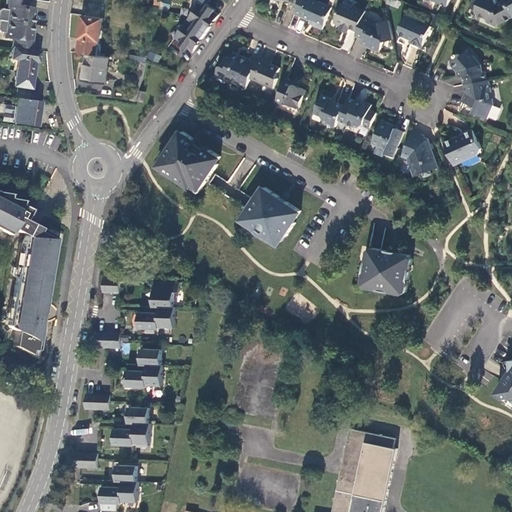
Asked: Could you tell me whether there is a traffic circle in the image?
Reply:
Yes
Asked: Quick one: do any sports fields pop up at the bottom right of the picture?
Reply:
Yes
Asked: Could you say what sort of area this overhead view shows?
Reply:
residential area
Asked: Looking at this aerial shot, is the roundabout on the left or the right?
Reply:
left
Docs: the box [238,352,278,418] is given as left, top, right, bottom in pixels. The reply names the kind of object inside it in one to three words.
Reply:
sports court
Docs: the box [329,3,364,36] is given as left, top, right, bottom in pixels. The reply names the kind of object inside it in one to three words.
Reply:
house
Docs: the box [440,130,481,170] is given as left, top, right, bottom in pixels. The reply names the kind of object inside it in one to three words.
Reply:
house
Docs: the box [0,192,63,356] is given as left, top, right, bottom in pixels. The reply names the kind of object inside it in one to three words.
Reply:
building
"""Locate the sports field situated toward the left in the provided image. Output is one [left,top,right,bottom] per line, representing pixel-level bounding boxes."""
[0,392,36,509]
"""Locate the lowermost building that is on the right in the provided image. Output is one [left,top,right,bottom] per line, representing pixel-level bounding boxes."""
[331,430,398,512]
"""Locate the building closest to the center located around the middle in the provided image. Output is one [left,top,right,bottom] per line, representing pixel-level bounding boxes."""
[236,186,302,250]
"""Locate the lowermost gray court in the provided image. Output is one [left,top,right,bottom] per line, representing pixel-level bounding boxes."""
[238,442,301,512]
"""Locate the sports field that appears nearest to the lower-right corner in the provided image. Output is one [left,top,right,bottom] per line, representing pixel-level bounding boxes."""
[402,442,512,512]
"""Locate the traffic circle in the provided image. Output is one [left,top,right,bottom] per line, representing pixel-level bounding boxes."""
[72,144,123,195]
